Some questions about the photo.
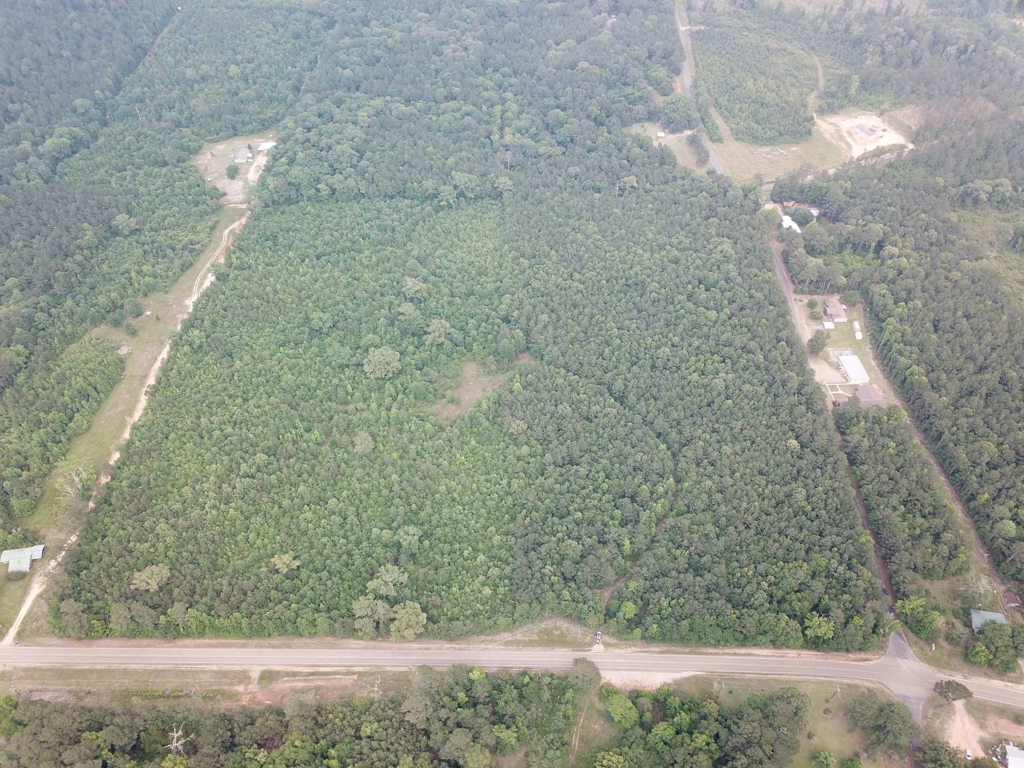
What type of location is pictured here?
forest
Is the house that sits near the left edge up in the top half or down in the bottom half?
bottom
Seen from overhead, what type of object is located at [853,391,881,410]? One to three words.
house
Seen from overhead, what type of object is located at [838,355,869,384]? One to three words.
building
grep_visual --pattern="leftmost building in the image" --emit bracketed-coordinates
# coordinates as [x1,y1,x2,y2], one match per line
[0,545,47,577]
